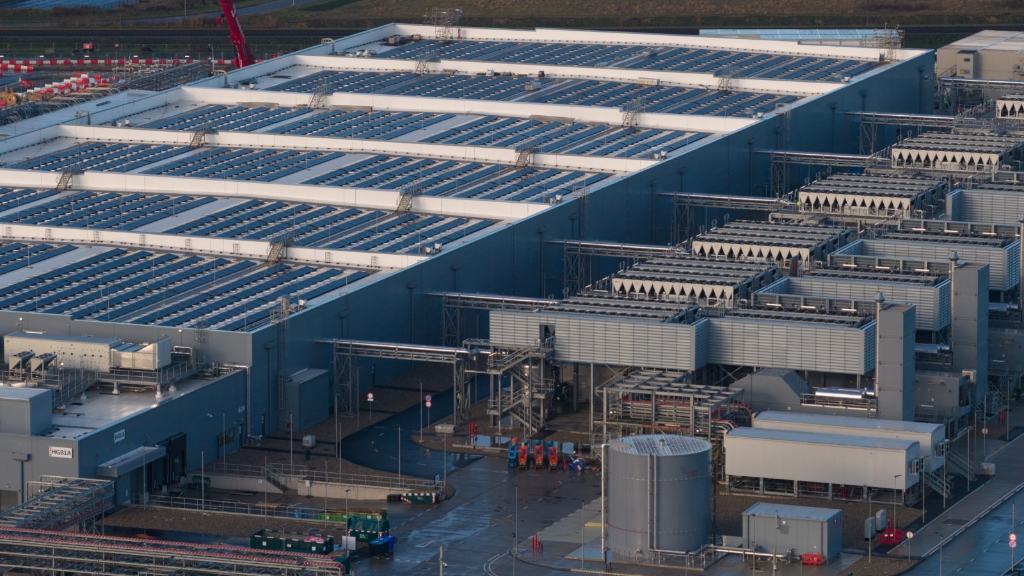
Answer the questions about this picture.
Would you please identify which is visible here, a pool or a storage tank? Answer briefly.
storage tank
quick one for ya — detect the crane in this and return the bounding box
[211,0,260,70]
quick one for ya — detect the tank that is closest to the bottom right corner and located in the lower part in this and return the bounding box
[567,433,743,572]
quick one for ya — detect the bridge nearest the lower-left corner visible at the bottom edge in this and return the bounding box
[0,479,118,561]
